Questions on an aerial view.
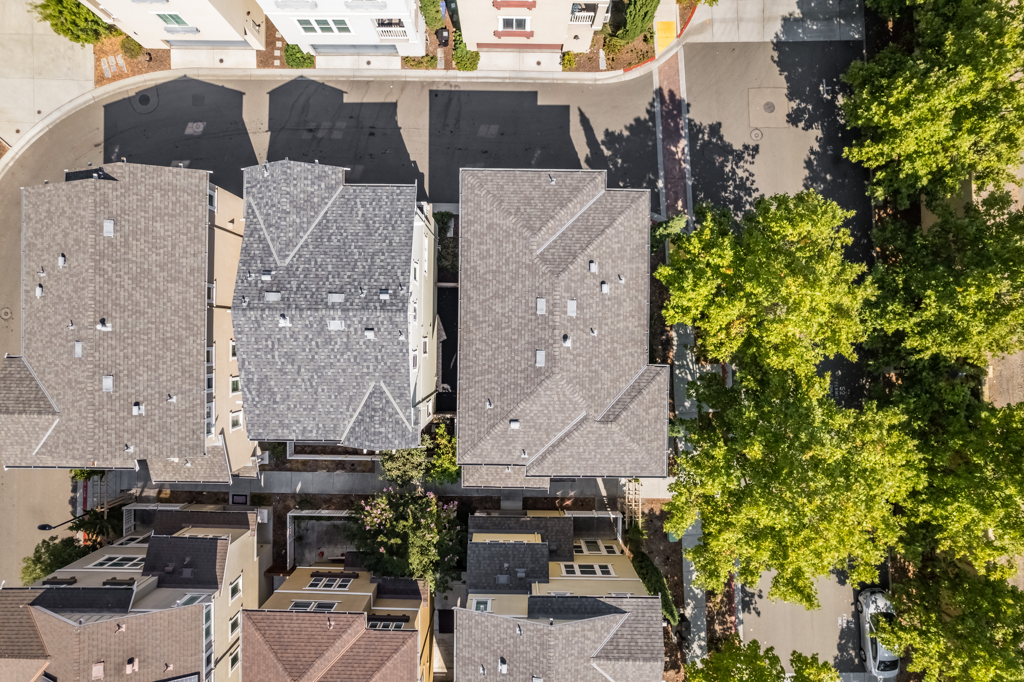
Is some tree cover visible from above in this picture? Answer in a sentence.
Yes, some tree cover is visible.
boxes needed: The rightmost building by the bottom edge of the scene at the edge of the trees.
[450,511,670,682]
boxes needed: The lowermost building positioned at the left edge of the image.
[0,507,271,682]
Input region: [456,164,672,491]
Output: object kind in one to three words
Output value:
house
